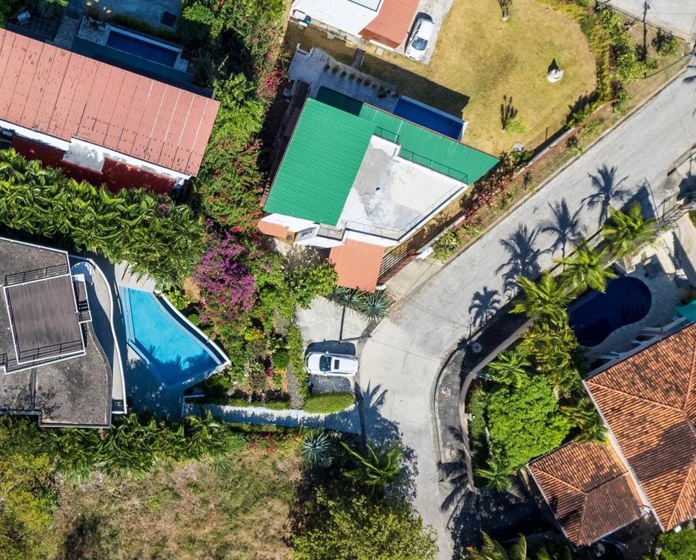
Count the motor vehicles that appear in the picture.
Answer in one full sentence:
The photo contains 2 motor vehicles.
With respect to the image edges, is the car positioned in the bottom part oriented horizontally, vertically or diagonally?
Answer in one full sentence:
The car positioned in the bottom part runs horizontally in the image.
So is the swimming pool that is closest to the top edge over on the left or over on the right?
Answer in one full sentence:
It is on the left.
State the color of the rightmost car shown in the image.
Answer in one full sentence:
In this view, the rightmost car is white.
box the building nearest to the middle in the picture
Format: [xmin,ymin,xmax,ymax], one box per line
[258,75,501,292]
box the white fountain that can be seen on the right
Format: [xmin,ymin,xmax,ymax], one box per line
[547,69,565,84]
